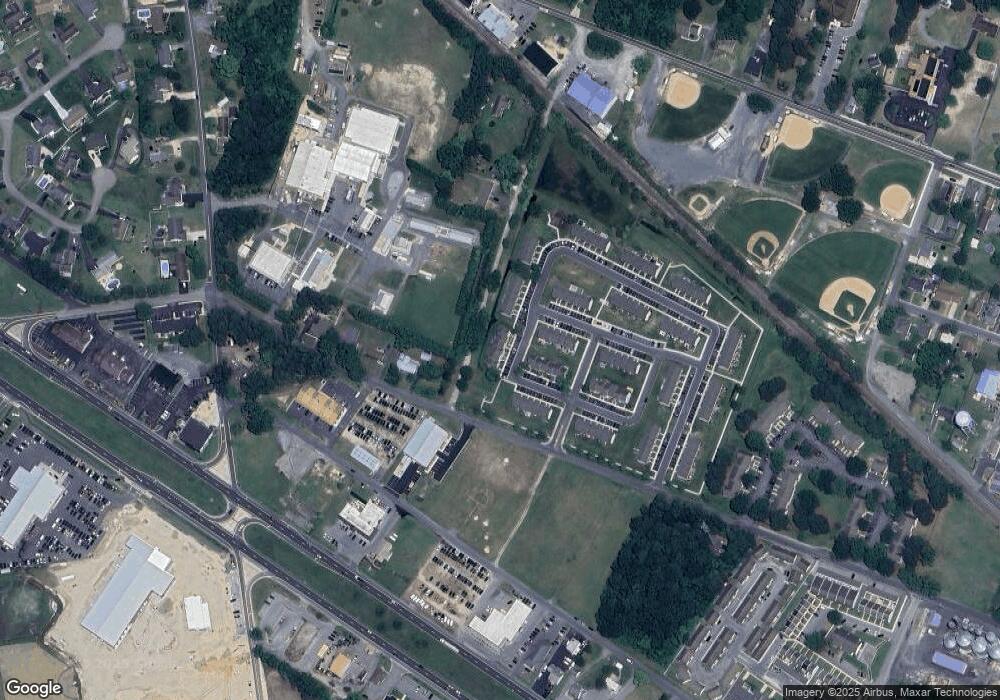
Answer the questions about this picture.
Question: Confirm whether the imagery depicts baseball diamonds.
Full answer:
Yes, the photo shows a baseball diamond.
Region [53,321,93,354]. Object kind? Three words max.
building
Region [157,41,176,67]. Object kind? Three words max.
house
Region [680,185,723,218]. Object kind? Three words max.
baseball field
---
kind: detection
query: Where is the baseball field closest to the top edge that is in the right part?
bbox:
[649,66,740,144]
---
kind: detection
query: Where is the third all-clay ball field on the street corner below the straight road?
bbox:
[861,157,931,226]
